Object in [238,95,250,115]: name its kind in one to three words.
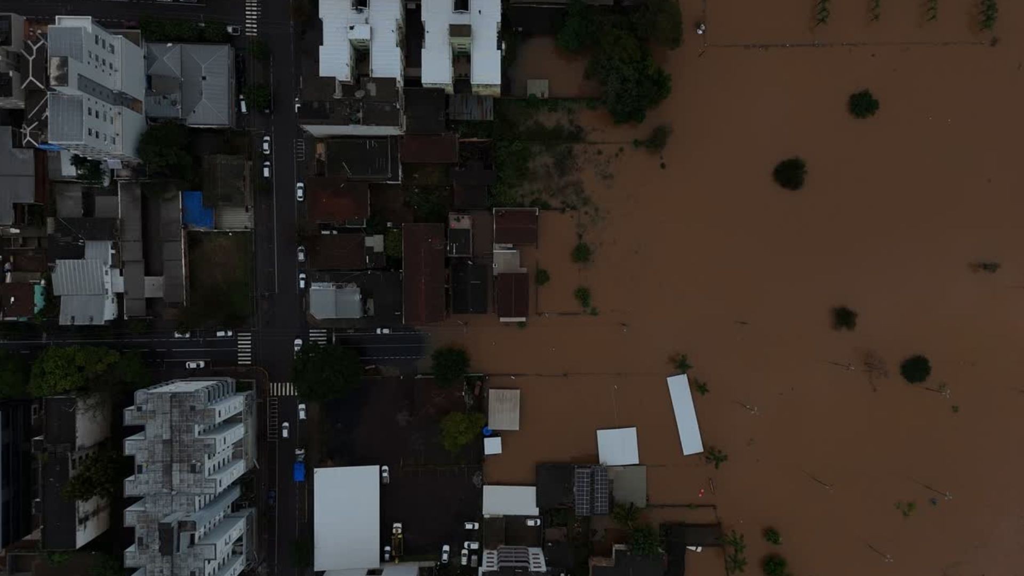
vehicle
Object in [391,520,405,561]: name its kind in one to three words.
vehicle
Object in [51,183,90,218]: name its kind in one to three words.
house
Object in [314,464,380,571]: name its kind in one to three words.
building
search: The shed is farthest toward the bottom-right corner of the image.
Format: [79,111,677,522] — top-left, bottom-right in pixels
[658,519,721,576]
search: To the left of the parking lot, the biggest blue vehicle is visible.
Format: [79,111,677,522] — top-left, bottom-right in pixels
[292,448,306,482]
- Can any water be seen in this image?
Yes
